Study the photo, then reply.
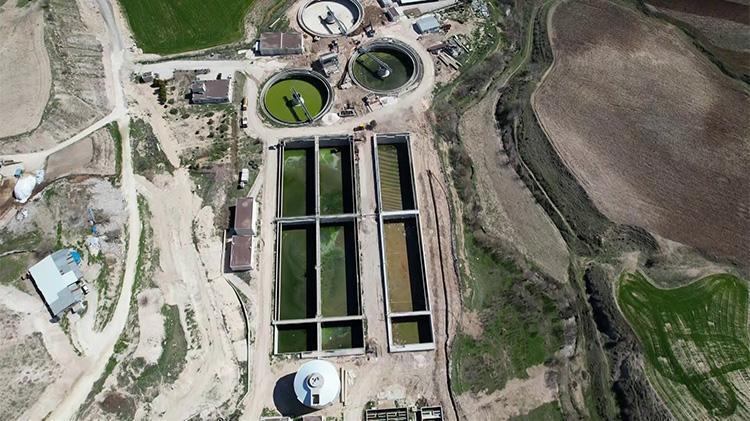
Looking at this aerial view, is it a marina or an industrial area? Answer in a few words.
industrial area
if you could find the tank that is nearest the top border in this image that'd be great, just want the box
[297,0,364,39]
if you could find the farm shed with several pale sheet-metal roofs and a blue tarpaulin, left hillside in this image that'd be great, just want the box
[29,249,86,324]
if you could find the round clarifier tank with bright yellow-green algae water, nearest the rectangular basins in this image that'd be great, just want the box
[259,70,333,129]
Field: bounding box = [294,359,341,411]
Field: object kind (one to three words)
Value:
storage tank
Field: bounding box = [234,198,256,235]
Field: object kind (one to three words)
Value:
building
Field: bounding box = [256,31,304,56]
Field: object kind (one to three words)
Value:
building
